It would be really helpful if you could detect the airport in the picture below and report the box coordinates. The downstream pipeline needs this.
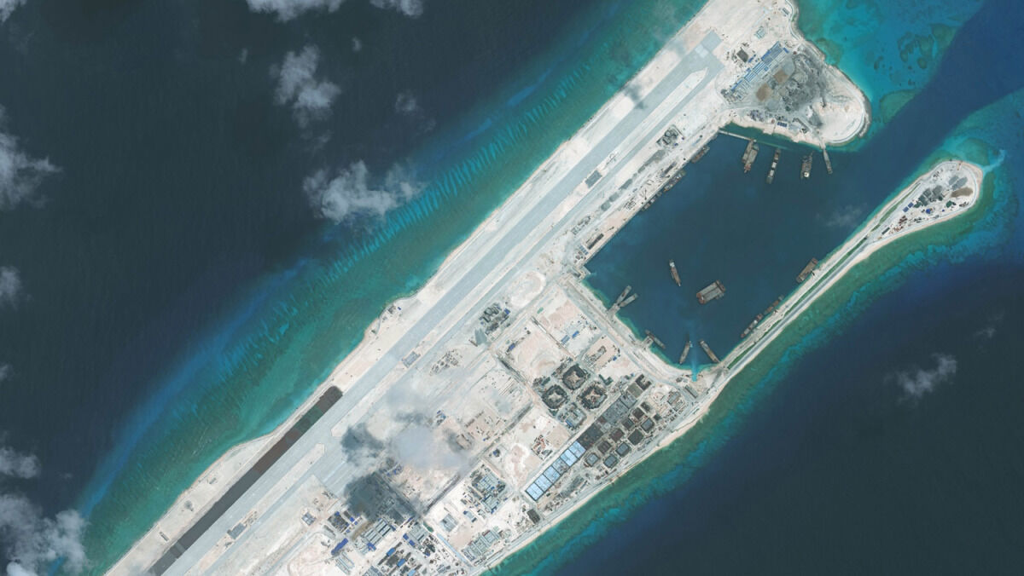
[142,29,725,576]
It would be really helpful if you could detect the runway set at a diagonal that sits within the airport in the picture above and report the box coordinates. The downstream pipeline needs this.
[160,29,723,576]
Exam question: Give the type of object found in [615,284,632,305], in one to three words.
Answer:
ship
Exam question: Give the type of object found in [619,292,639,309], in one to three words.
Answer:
ship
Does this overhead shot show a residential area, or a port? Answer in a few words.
port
